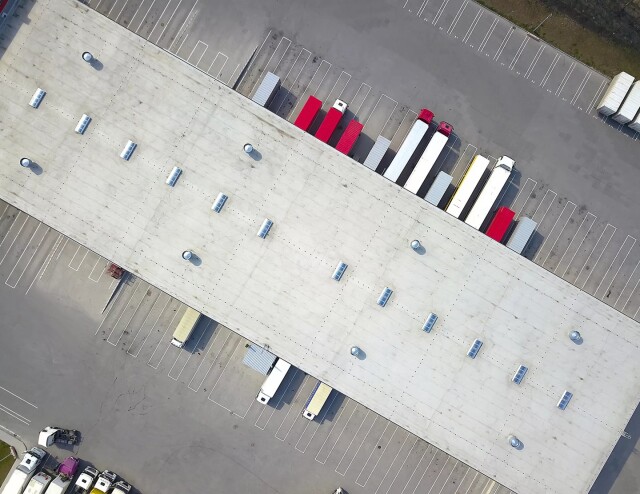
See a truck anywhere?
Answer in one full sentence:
Yes, you can see a truck in this photo.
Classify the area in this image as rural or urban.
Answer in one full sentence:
The area is urban.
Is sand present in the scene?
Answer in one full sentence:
No, sand can't be seen anywhere here.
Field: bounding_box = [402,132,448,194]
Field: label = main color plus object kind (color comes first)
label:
white trailer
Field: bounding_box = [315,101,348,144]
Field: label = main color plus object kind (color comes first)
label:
red truck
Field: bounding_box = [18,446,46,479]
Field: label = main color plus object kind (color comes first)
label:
white truck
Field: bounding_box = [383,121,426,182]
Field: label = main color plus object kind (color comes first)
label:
white trailer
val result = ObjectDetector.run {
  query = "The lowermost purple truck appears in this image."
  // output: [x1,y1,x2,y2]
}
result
[60,455,83,477]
